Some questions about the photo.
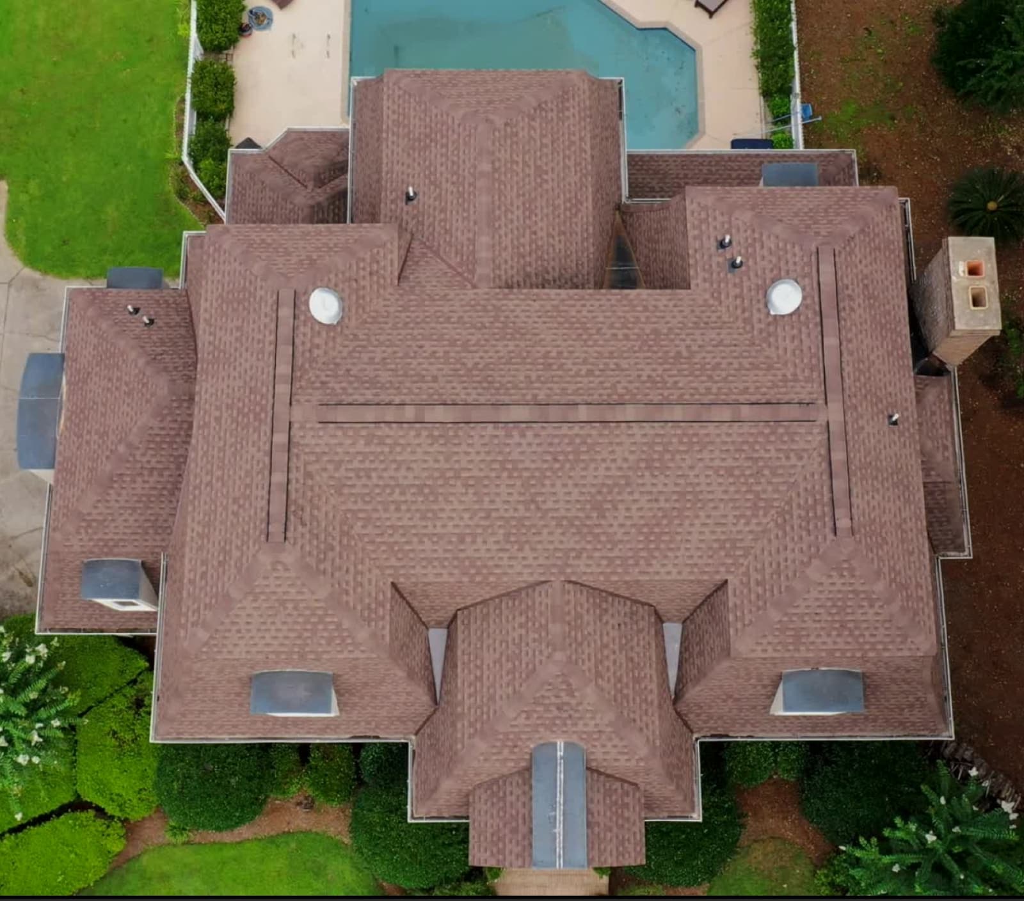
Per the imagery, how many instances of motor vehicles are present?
0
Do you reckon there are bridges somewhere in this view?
No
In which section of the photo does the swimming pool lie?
top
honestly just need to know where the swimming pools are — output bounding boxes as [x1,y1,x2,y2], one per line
[349,0,698,150]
